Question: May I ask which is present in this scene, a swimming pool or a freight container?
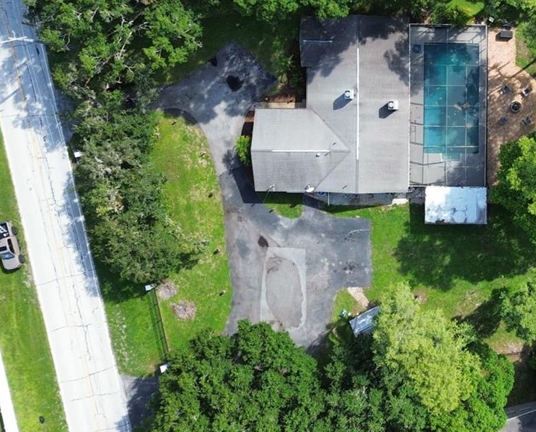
swimming pool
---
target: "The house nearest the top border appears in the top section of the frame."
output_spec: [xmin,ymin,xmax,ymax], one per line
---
[250,13,411,198]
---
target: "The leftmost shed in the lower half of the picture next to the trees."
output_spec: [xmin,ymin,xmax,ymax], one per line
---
[349,308,376,338]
